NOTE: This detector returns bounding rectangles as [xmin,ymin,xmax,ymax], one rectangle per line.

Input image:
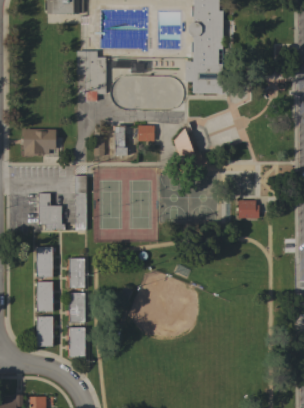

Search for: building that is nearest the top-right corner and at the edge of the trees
[187,0,224,94]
